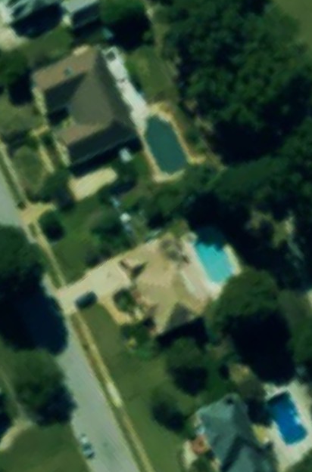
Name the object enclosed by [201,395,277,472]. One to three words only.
house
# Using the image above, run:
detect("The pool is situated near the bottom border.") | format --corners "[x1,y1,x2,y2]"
[266,381,312,467]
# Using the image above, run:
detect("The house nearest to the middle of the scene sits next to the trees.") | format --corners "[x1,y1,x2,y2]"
[125,230,204,342]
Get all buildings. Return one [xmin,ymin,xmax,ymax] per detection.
[33,44,137,166]
[201,395,277,472]
[64,0,105,28]
[125,230,204,342]
[0,0,41,26]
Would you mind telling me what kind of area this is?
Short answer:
residential area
